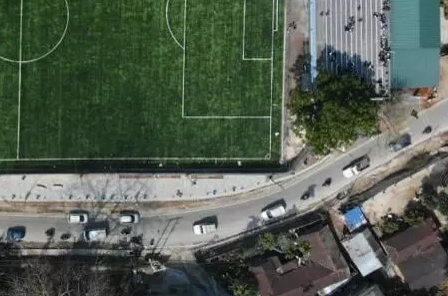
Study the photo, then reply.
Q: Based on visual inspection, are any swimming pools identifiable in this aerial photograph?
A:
No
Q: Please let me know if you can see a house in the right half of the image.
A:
Yes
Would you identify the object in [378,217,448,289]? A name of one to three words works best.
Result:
house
